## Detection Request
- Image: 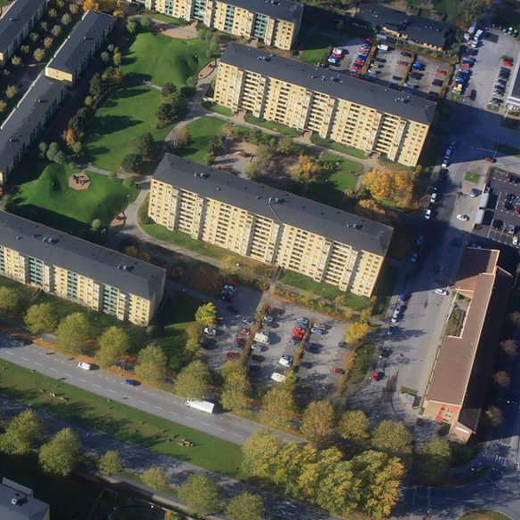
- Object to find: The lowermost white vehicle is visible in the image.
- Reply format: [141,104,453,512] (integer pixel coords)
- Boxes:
[182,394,220,415]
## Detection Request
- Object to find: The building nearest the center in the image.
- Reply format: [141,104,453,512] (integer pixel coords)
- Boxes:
[149,153,394,295]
